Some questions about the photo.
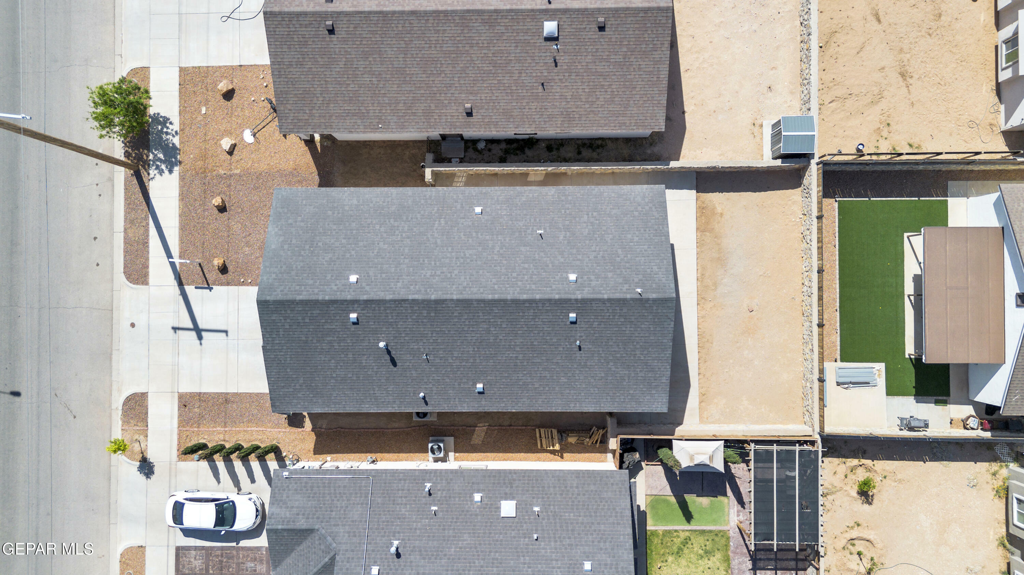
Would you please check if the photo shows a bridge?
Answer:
No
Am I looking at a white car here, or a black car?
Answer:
white car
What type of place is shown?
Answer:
residential area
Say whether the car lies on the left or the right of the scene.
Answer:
left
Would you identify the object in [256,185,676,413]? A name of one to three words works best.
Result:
house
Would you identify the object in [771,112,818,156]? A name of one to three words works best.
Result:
shed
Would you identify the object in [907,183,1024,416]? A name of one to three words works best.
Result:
house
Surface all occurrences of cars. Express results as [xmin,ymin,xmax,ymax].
[164,489,264,536]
